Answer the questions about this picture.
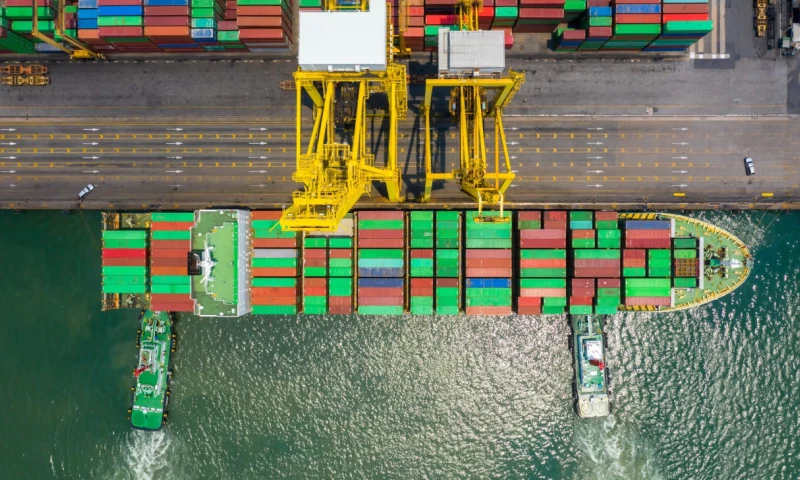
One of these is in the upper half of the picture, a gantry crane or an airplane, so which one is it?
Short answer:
gantry crane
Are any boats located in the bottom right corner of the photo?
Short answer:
Yes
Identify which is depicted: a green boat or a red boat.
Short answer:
green boat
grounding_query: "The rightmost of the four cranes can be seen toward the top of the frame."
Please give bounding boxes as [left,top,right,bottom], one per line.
[412,0,534,222]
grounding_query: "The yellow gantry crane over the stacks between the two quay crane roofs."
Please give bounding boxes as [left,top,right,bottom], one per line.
[386,0,413,57]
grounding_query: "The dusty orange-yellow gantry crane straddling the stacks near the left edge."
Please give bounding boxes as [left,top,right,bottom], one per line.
[27,0,105,57]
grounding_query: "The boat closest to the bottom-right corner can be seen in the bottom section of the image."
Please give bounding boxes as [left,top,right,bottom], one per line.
[567,313,612,418]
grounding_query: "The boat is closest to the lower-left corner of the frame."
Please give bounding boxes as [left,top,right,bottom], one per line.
[127,310,174,432]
